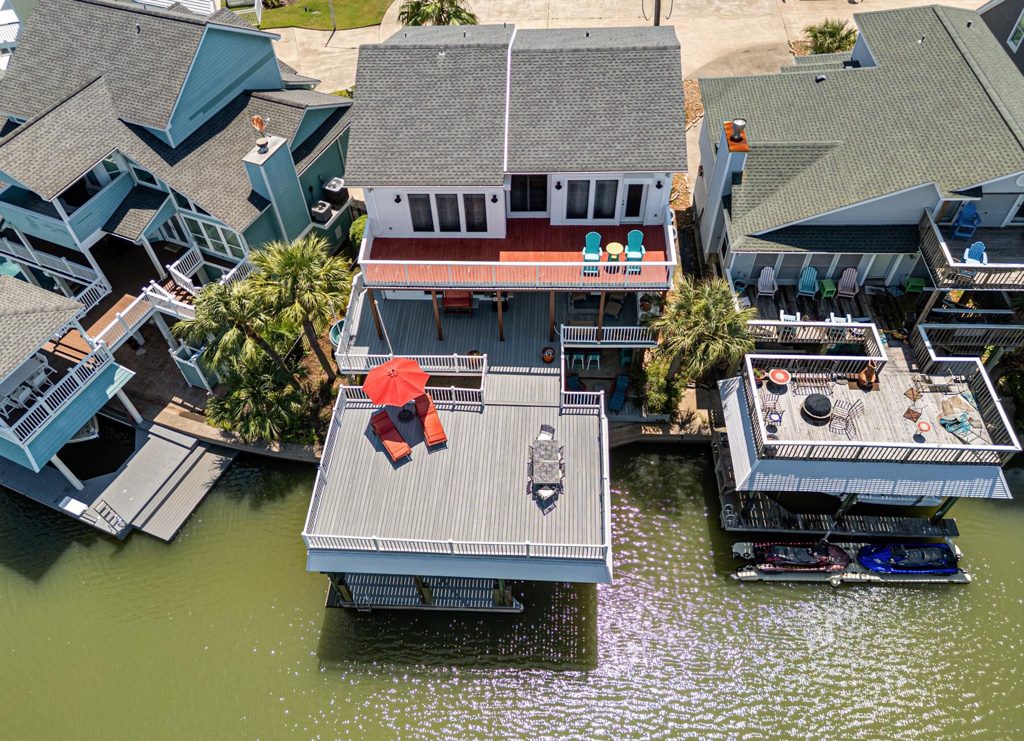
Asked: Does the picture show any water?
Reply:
Yes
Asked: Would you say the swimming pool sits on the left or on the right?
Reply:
left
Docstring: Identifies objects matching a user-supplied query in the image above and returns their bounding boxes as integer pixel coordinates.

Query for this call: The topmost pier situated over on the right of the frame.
[712,422,958,544]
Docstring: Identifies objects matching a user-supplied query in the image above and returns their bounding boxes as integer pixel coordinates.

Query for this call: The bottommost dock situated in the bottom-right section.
[730,545,971,591]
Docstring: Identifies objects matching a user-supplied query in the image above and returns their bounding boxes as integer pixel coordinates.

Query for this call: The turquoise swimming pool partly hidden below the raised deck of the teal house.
[0,261,47,290]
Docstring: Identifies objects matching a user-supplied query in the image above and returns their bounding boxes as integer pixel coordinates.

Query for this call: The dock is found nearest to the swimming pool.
[0,435,238,549]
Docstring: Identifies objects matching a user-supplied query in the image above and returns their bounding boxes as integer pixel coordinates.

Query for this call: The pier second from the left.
[325,549,524,623]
